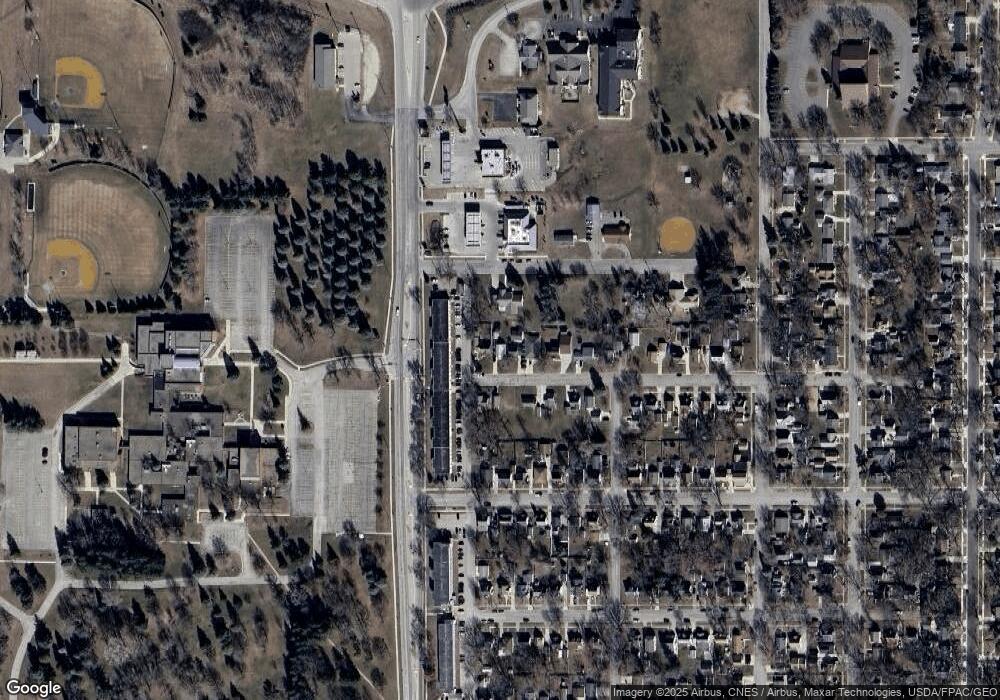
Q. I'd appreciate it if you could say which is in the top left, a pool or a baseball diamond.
baseball diamond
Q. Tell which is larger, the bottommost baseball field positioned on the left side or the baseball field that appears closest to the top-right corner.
the bottommost baseball field positioned on the left side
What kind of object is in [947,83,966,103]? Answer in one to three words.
house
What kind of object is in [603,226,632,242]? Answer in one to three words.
house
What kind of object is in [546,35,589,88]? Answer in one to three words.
building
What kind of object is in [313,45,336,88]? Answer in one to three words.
building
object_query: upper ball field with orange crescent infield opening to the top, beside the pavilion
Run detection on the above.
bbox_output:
[40,0,174,135]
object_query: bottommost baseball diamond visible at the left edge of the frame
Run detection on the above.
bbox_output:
[36,163,170,301]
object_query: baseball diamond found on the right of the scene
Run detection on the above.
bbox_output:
[660,217,695,253]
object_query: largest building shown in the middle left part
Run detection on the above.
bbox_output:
[63,322,279,515]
